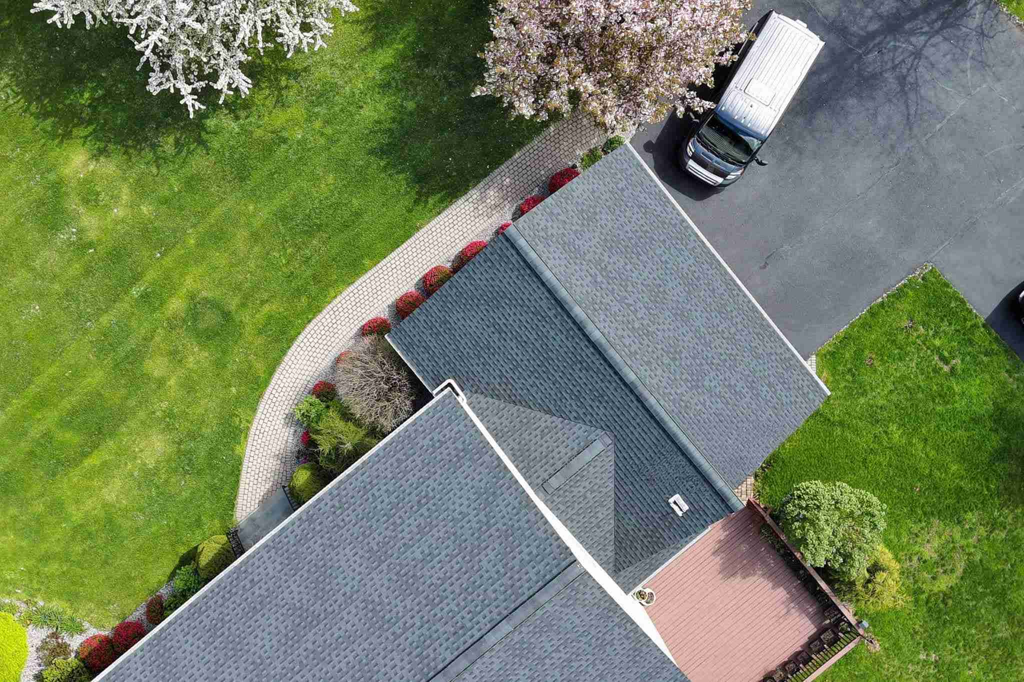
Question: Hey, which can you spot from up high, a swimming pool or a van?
van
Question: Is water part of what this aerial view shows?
No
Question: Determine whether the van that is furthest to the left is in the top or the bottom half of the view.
top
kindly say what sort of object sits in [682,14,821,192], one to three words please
van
